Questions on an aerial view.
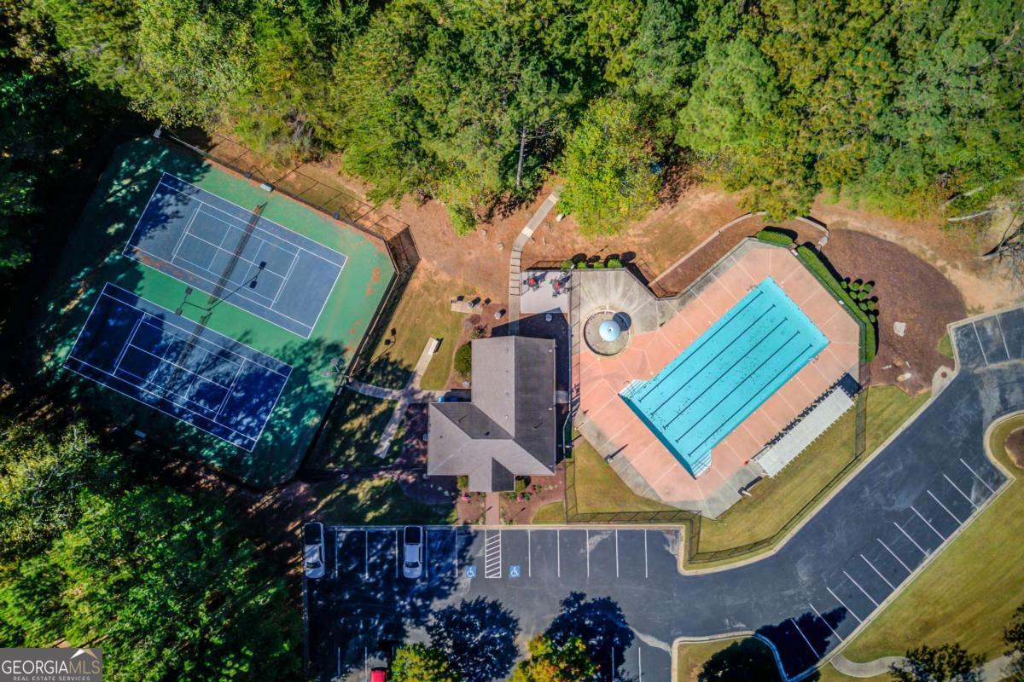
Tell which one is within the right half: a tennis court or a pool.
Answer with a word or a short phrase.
pool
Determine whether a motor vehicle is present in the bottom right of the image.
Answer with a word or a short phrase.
No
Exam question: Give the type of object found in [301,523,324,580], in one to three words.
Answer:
truck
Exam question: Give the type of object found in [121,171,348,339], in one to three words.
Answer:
tennis court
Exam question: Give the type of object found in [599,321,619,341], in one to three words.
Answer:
fountain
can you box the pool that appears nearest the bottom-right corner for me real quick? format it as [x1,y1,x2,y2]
[619,277,829,479]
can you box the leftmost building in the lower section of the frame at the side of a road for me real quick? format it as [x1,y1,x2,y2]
[427,336,556,492]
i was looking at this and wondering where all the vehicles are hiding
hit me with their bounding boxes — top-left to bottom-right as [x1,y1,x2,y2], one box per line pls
[301,523,324,580]
[402,525,423,581]
[369,668,386,682]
